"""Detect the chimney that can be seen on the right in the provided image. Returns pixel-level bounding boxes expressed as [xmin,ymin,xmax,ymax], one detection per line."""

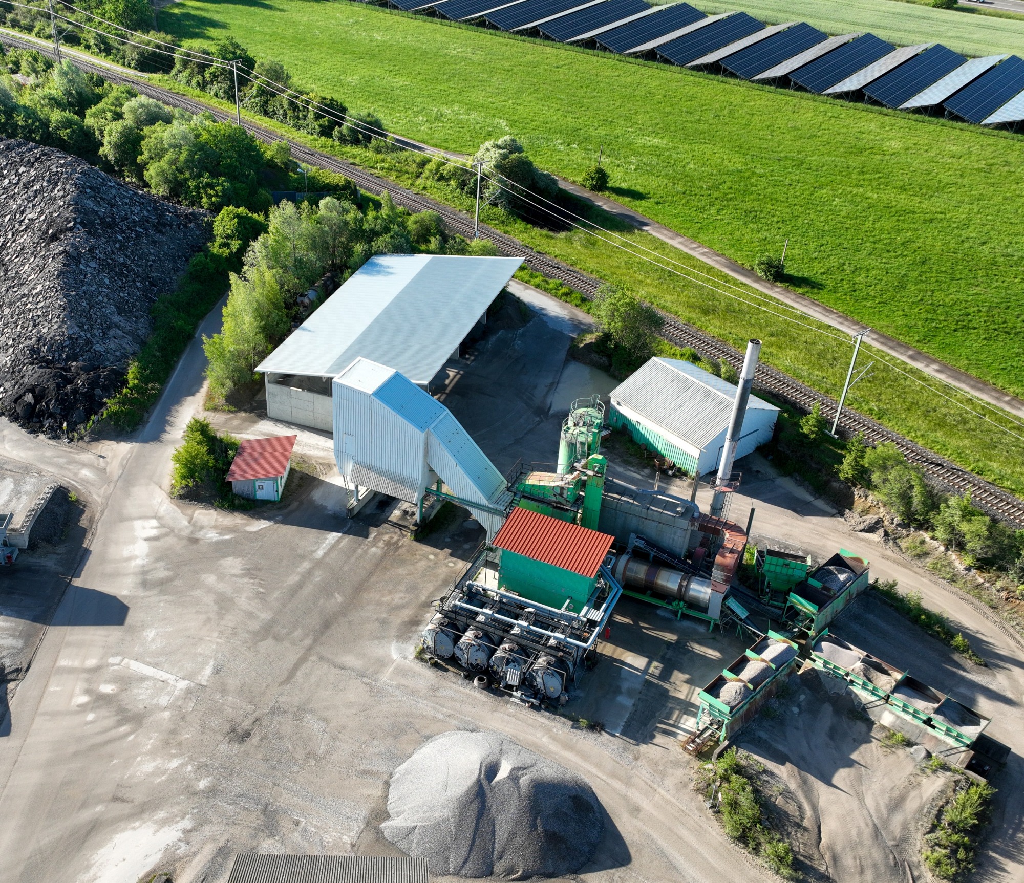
[705,337,764,547]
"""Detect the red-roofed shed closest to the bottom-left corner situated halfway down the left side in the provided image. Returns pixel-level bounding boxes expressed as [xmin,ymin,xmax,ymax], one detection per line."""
[225,435,297,501]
